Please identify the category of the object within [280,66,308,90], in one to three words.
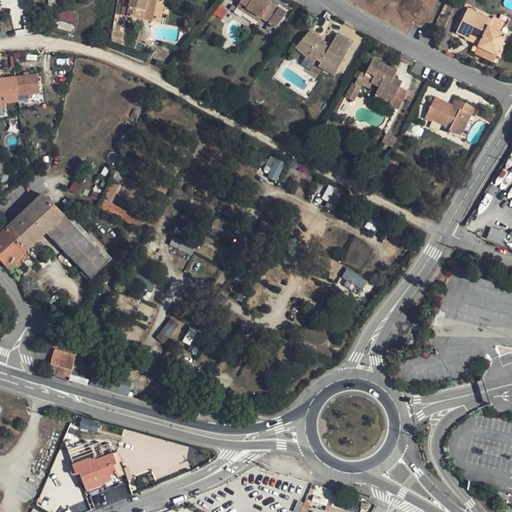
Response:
swimming pool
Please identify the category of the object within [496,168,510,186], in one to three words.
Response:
boat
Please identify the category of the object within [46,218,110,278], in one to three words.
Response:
barn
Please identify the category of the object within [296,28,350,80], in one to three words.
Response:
house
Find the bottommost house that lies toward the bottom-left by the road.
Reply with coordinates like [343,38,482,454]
[72,453,114,495]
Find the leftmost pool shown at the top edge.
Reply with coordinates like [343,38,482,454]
[151,24,180,43]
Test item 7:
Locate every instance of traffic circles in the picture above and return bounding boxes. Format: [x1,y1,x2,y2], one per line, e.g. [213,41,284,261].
[306,378,400,472]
